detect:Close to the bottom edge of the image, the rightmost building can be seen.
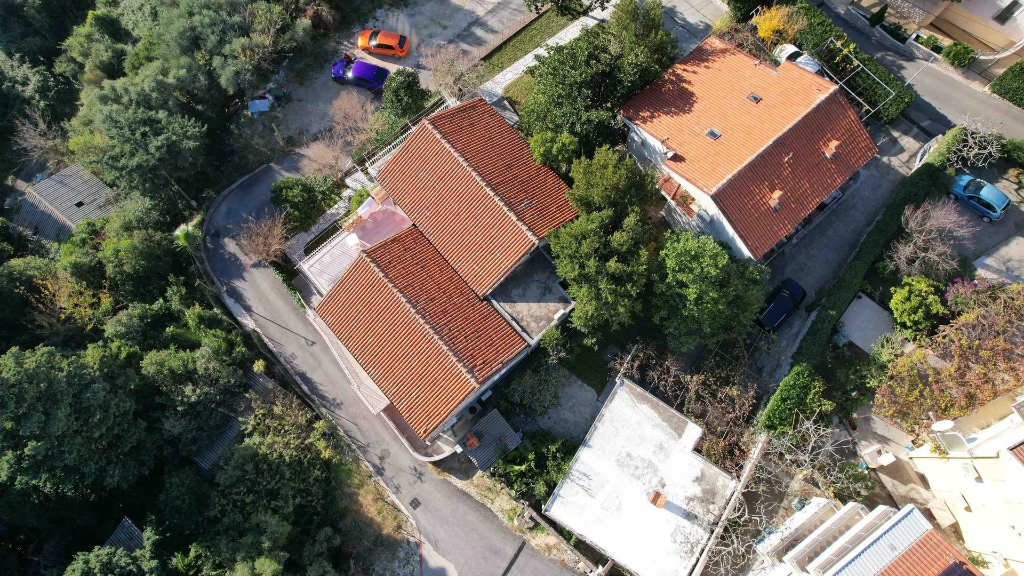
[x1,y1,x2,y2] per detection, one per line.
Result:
[911,399,1024,576]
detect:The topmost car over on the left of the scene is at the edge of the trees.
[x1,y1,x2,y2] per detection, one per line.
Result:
[357,27,411,60]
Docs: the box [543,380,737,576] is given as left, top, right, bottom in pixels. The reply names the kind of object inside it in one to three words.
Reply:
house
